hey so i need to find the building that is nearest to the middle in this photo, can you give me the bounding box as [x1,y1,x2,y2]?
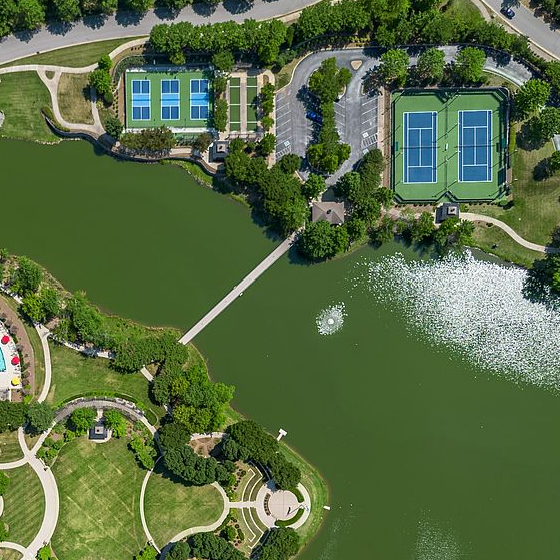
[309,202,344,228]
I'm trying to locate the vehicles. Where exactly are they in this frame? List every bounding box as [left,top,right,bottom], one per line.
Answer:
[307,111,322,122]
[501,6,514,19]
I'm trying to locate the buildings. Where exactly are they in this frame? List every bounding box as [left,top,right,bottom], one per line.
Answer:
[309,202,344,228]
[431,203,461,227]
[208,140,230,166]
[89,419,109,439]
